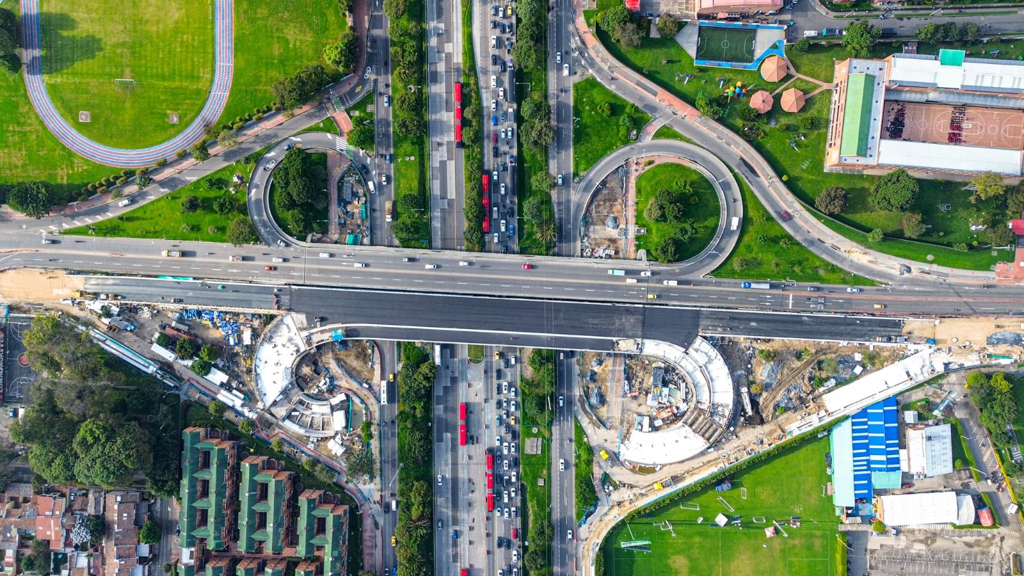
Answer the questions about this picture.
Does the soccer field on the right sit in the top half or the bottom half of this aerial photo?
bottom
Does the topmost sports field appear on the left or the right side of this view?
left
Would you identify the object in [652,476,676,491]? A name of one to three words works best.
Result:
vehicle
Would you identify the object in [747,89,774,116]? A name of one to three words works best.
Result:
gazebo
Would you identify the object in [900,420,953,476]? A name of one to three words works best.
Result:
building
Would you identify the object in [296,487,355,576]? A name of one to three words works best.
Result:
building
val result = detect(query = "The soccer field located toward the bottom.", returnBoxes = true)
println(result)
[595,429,838,576]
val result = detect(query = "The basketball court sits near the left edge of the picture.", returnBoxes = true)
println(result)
[0,317,42,404]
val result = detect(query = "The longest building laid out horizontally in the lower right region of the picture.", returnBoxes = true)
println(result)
[870,488,974,526]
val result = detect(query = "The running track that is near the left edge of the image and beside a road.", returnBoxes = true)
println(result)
[20,0,234,168]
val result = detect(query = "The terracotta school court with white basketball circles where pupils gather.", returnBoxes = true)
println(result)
[881,101,1024,150]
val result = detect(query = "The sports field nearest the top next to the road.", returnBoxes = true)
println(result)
[39,0,215,149]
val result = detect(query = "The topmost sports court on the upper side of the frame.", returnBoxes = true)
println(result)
[679,20,785,71]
